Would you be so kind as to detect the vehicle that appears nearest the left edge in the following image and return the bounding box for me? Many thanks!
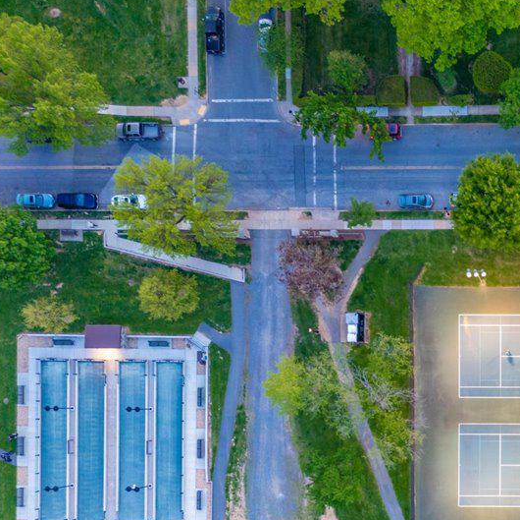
[12,190,52,208]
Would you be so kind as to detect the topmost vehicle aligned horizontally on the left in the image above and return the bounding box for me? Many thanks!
[114,120,161,139]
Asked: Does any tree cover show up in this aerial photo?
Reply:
Yes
